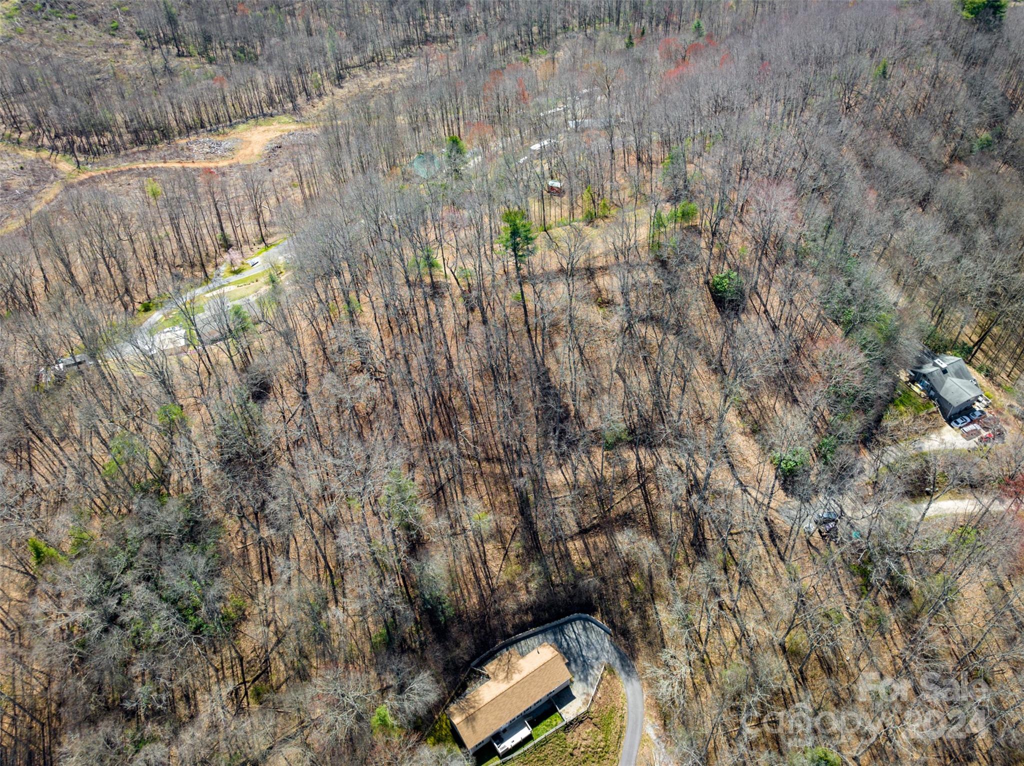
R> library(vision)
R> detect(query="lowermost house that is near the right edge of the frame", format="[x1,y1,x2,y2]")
[891,352,984,421]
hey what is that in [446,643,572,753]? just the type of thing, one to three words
house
